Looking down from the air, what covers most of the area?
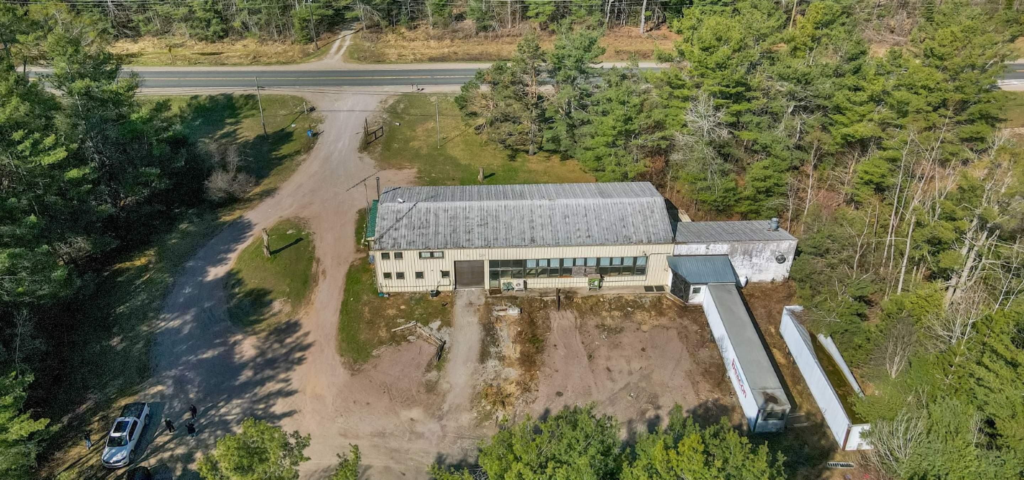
trees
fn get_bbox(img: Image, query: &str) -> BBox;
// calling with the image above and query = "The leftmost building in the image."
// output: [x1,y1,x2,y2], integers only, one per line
[361,168,677,298]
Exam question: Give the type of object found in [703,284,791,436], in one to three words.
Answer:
trailer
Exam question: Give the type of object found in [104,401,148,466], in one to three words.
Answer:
truck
